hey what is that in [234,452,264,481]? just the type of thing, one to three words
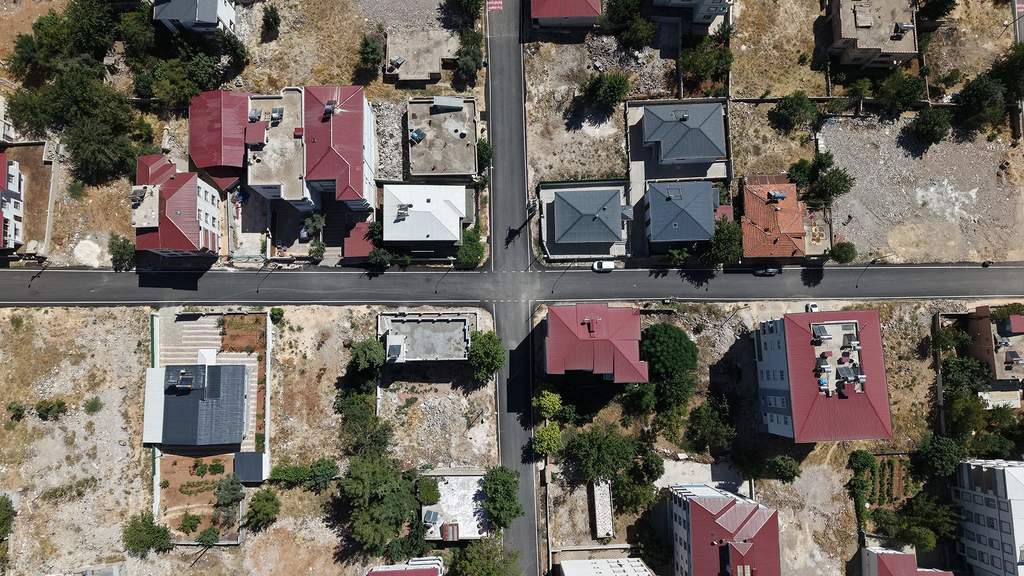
building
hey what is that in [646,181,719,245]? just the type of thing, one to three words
house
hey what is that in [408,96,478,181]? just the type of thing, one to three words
house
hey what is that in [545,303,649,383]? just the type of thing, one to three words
building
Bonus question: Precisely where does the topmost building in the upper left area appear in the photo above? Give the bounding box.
[153,0,234,42]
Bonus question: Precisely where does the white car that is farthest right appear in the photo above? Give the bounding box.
[806,300,819,313]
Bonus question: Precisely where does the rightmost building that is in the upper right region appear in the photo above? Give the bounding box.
[825,0,919,69]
